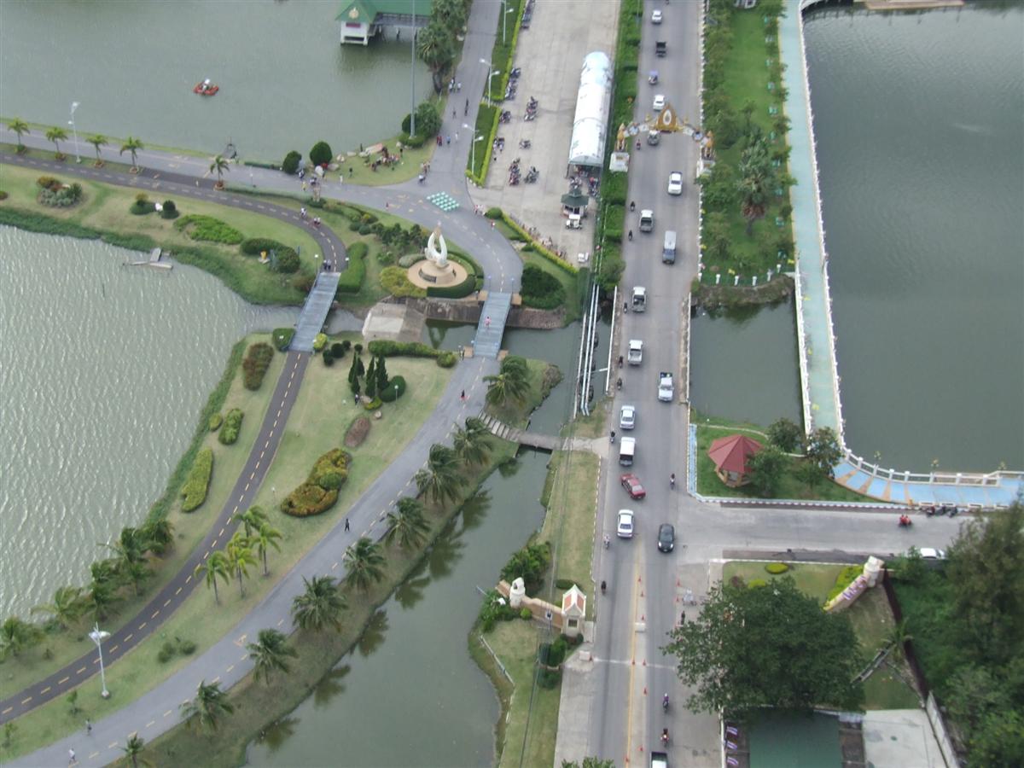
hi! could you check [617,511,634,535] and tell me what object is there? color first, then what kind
white car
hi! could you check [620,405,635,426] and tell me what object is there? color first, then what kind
white car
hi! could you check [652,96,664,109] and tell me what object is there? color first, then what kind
white vehicle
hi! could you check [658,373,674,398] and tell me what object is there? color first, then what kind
white vehicle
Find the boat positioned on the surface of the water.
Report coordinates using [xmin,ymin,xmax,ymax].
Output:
[193,78,218,95]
